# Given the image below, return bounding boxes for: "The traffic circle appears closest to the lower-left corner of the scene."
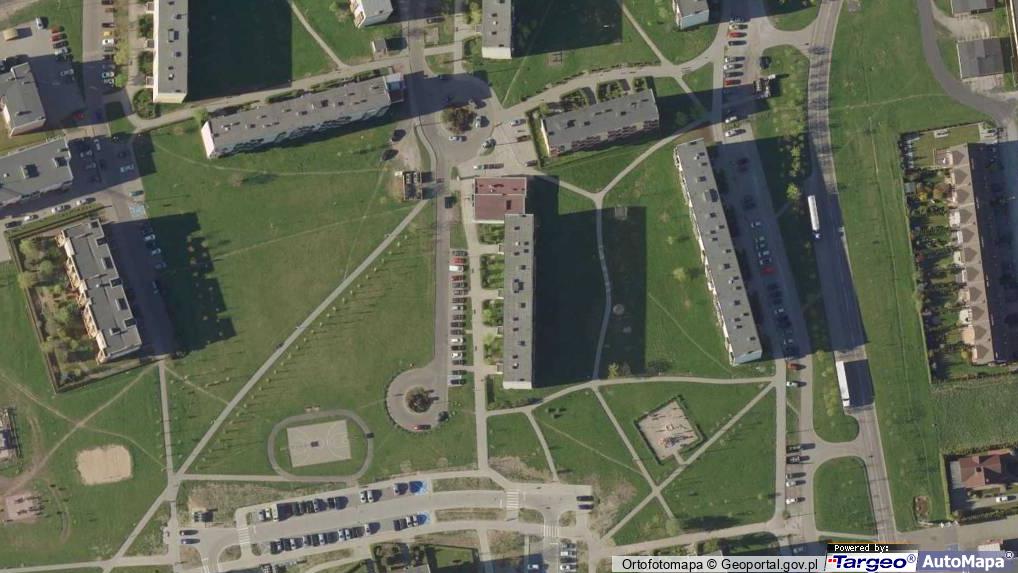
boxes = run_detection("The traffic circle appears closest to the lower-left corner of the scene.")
[387,360,448,432]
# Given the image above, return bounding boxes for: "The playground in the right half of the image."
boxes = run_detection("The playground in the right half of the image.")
[637,399,698,459]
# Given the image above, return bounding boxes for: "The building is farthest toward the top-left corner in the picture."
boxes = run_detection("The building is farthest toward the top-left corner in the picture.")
[0,64,45,134]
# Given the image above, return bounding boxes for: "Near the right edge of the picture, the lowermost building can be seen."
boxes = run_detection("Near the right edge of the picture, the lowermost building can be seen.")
[978,539,1007,572]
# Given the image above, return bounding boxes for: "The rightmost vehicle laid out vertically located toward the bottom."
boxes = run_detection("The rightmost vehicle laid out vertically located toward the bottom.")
[838,360,853,407]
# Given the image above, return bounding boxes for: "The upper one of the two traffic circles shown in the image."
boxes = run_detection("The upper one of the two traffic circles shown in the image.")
[419,74,503,166]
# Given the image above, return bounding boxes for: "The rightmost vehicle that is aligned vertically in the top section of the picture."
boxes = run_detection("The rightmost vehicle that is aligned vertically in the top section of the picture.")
[808,194,821,239]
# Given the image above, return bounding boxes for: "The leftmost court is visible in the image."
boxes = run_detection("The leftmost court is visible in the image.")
[77,445,132,484]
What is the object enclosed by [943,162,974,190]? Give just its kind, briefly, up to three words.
house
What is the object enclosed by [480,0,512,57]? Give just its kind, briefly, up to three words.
building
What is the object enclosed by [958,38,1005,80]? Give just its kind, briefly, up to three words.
building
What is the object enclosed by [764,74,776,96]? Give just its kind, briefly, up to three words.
vehicle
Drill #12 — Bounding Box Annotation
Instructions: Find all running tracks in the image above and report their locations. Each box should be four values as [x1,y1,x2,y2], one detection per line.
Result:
[268,409,374,482]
